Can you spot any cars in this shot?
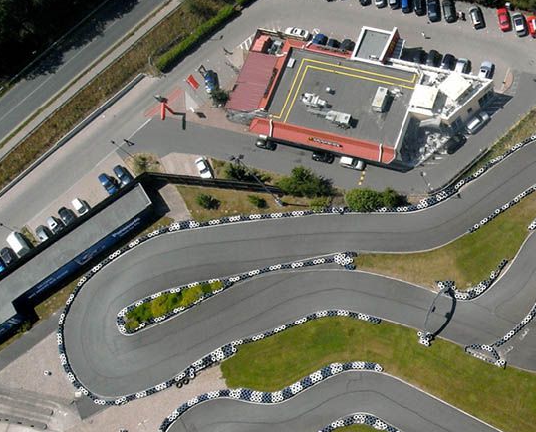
Yes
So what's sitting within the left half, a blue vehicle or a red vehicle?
blue vehicle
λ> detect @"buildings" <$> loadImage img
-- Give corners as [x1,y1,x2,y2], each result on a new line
[227,26,497,172]
[0,182,159,337]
